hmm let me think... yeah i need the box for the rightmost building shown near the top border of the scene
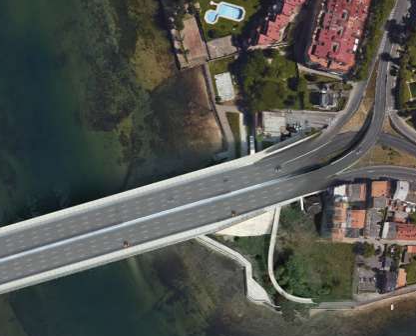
[304,0,371,75]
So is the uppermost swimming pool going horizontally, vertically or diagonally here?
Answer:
horizontally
